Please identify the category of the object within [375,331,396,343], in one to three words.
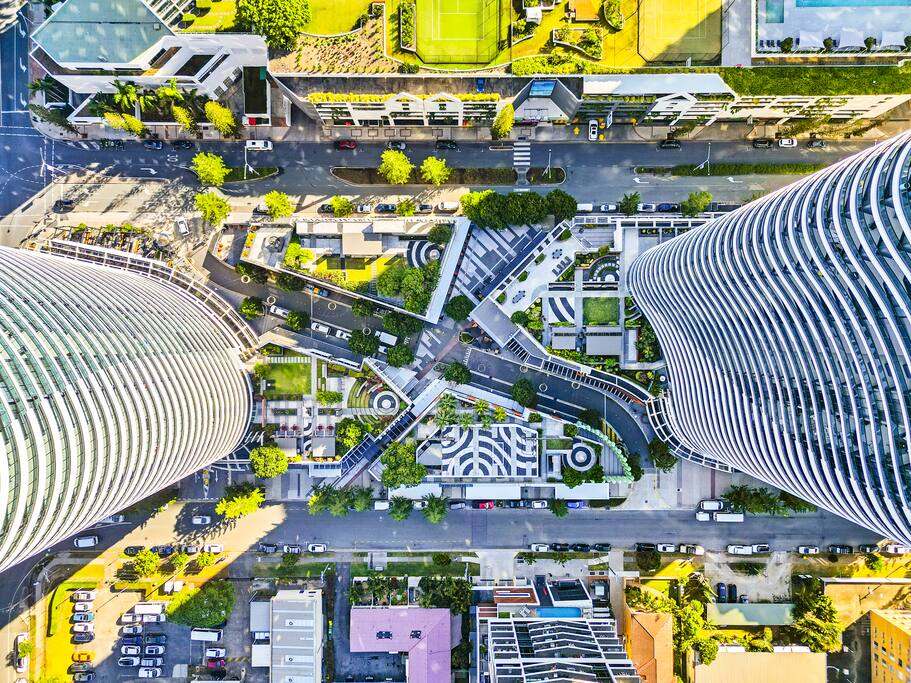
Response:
vehicle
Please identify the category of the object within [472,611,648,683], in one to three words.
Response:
building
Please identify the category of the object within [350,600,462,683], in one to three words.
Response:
house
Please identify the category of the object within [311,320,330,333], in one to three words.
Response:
vehicle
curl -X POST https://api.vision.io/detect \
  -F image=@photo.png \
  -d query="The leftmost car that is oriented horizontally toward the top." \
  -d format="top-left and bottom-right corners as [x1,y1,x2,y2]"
[54,199,77,212]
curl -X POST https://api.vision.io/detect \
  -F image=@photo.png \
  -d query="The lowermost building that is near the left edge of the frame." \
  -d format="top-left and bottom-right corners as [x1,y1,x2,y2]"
[0,245,244,572]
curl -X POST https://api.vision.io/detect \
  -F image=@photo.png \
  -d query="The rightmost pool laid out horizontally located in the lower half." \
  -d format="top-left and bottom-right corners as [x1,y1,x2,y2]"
[533,606,582,618]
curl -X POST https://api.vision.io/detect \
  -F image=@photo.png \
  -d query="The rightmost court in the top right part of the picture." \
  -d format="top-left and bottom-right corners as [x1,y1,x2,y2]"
[639,0,728,62]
